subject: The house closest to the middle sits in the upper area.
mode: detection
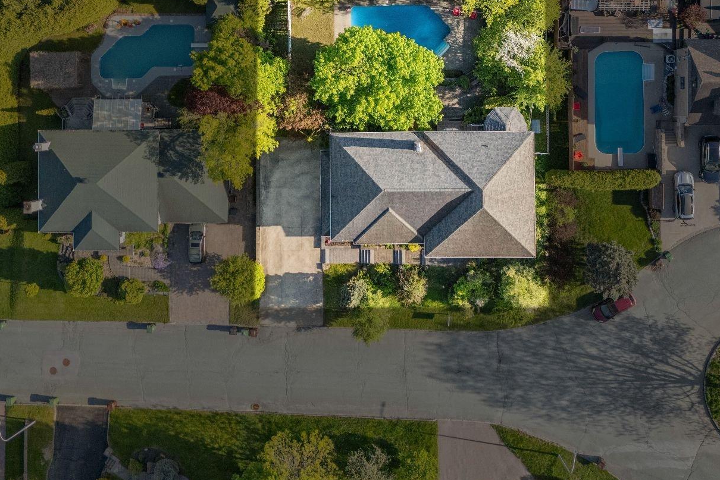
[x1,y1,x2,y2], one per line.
[320,106,536,258]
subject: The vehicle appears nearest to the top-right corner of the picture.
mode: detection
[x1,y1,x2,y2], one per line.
[695,131,720,185]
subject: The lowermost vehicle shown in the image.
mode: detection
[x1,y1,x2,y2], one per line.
[587,287,640,325]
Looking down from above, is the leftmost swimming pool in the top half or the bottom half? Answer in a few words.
top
